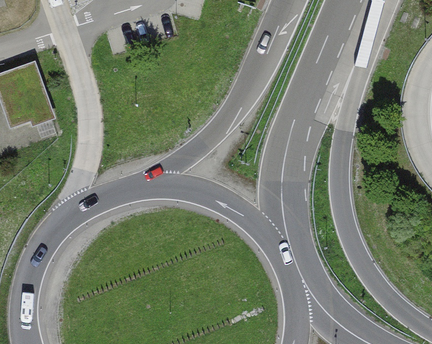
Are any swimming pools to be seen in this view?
No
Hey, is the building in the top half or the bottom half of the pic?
top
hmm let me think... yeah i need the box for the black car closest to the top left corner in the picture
[120,22,133,44]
